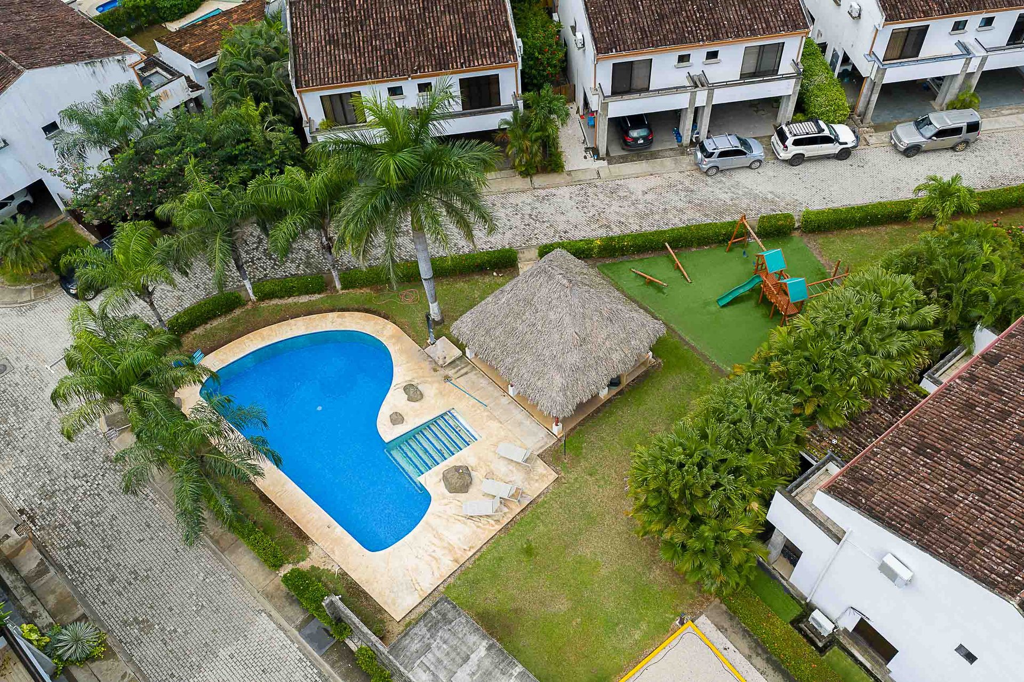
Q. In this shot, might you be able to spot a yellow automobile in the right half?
No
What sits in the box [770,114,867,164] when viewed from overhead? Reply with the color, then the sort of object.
white car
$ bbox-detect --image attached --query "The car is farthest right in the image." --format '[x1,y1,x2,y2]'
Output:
[885,104,984,157]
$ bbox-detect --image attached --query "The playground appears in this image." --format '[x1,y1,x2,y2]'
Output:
[719,212,857,336]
